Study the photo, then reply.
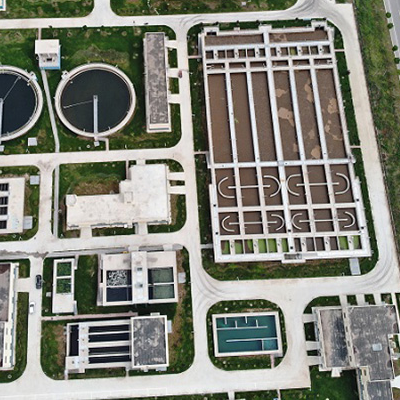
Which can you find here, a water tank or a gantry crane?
water tank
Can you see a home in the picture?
Yes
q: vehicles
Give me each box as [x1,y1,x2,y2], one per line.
[29,301,36,316]
[35,274,42,289]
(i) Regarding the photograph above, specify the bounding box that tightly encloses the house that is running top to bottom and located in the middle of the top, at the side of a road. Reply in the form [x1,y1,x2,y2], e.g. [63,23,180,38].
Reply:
[144,32,172,133]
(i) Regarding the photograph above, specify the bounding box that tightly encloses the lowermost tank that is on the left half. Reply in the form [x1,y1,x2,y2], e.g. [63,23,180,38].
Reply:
[66,320,133,378]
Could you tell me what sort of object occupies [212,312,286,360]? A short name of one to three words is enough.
water tank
